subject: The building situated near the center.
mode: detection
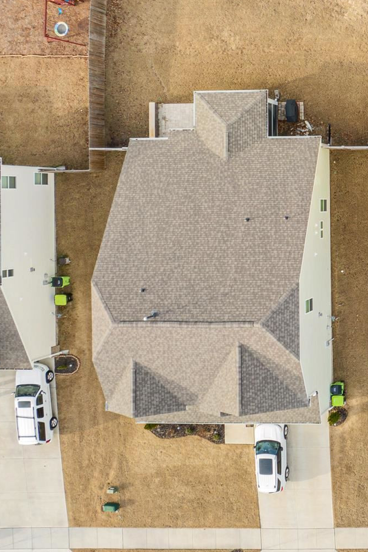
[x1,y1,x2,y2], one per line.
[90,89,341,424]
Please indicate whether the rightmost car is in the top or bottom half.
bottom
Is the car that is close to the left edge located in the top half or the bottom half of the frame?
bottom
